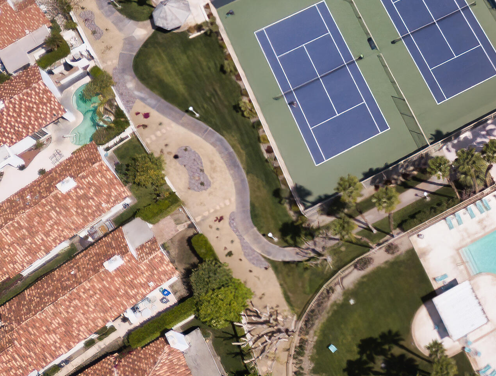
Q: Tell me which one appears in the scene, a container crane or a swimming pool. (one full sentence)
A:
Visible in the photo is a swimming pool.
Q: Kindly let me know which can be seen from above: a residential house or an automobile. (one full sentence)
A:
This aerial view contains a residential house.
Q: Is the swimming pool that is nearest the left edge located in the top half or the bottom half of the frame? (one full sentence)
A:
It is in the top half that the swimming pool that is nearest the left edge appears.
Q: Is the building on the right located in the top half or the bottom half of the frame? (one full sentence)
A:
The building on the right sits in the bottom half of the picture.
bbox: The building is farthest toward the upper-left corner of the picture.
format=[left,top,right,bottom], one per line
[0,0,61,76]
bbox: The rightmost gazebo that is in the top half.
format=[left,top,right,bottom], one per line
[150,0,198,39]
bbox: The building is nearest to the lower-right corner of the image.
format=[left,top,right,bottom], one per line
[431,280,490,343]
